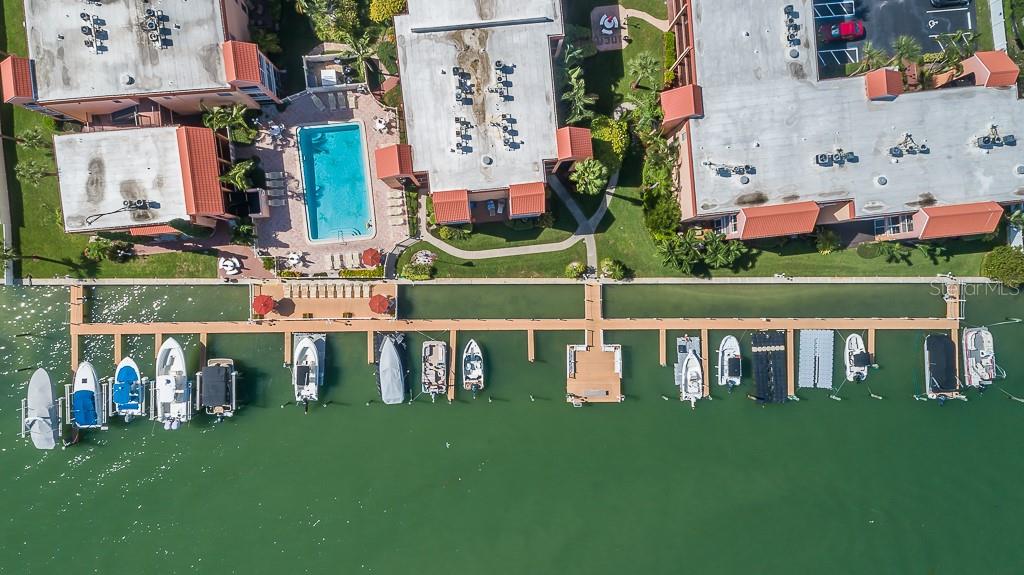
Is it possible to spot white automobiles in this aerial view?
No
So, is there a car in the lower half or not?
No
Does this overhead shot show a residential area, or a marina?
marina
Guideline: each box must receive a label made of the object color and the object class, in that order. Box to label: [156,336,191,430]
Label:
white boat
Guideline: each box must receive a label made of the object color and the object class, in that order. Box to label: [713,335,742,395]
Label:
white boat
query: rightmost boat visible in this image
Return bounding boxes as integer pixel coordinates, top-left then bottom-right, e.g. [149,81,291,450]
[959,328,1002,389]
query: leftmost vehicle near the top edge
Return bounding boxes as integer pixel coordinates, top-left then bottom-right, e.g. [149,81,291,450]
[817,20,866,45]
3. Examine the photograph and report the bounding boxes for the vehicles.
[817,20,866,45]
[924,0,971,10]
